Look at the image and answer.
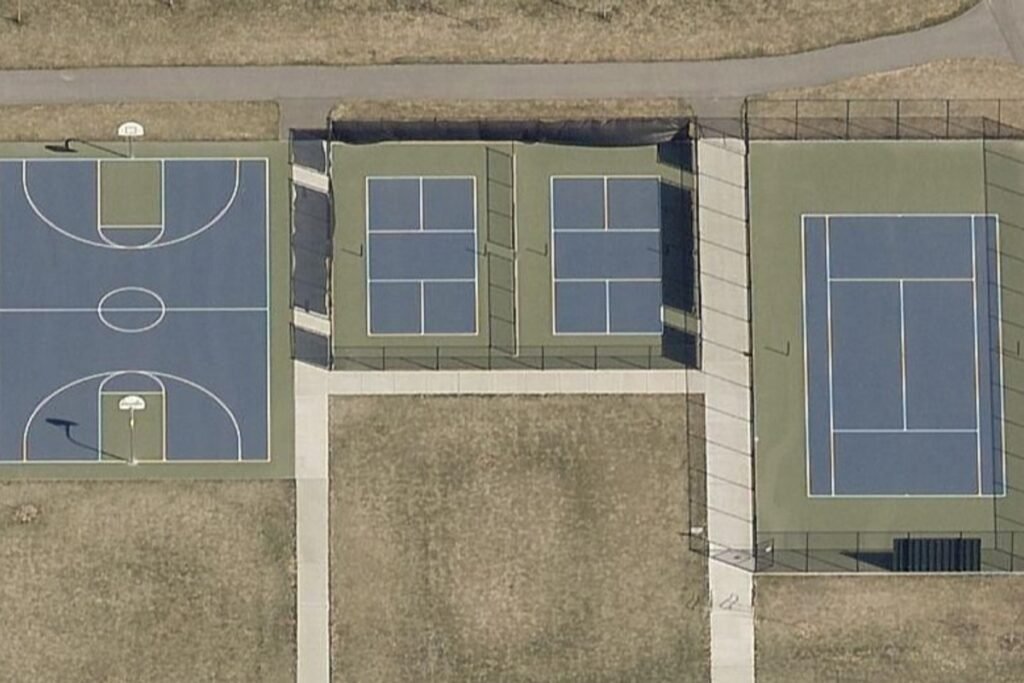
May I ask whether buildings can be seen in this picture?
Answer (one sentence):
No, no building can be seen from above.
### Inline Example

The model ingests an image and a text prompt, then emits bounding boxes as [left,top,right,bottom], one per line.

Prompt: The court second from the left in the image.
[333,143,517,370]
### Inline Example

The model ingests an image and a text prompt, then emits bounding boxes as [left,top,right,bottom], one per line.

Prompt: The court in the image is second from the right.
[514,143,696,369]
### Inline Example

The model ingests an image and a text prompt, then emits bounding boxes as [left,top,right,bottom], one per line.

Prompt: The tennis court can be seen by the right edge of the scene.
[749,140,1024,571]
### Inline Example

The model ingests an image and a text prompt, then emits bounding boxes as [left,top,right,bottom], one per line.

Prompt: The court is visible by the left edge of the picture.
[0,140,295,480]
